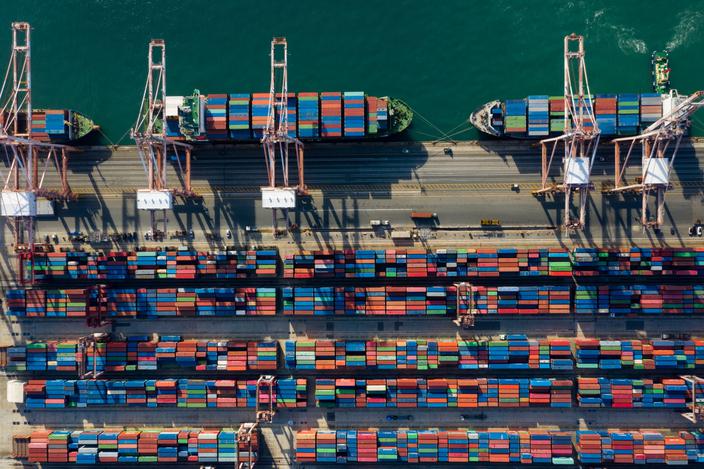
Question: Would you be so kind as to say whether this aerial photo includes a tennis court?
No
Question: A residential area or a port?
port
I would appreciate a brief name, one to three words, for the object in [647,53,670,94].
boat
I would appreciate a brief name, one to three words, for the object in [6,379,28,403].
shed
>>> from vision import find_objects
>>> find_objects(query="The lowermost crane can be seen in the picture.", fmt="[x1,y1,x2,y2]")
[236,412,263,469]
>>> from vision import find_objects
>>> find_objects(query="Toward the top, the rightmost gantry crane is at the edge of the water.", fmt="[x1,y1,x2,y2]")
[597,86,704,229]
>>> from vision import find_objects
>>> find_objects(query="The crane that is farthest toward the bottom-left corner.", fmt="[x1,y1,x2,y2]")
[80,330,115,378]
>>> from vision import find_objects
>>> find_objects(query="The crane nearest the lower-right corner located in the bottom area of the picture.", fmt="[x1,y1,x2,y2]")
[668,367,704,424]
